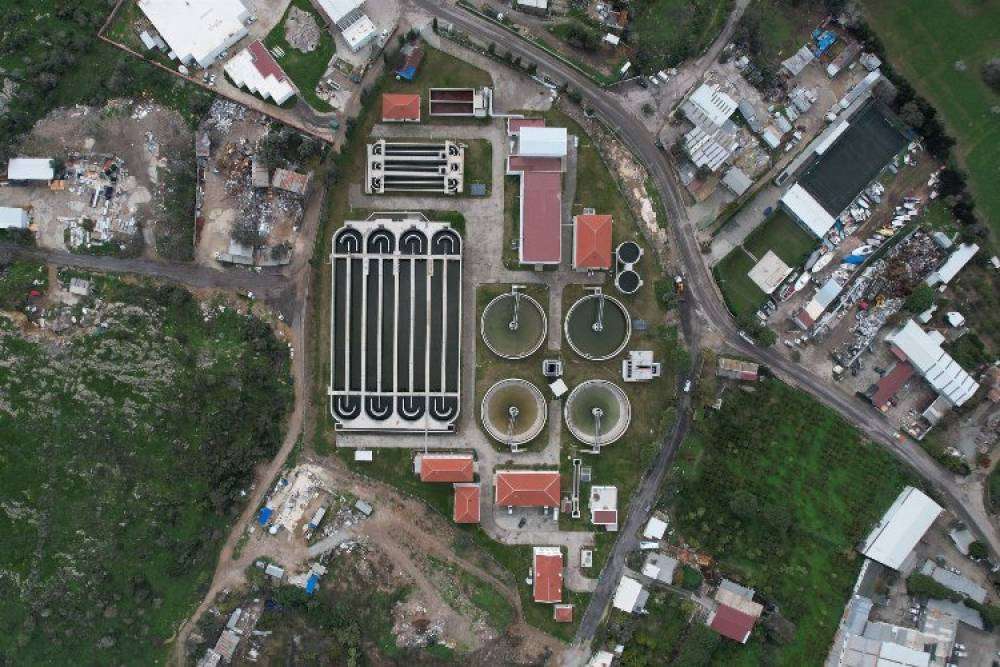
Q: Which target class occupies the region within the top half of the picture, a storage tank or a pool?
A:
storage tank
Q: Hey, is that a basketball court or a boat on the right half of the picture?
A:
boat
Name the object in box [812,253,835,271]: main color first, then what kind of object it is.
white boat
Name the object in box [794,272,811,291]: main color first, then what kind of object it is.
white boat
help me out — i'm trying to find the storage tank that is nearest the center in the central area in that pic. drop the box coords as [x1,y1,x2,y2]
[480,286,548,359]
